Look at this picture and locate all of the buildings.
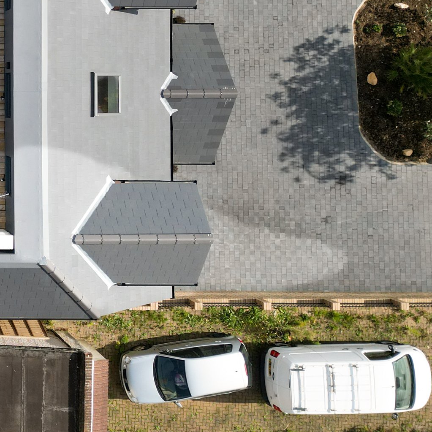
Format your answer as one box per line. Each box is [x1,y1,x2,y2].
[0,0,238,323]
[0,344,104,432]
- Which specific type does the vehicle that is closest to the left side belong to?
automobile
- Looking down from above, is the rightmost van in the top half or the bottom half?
bottom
